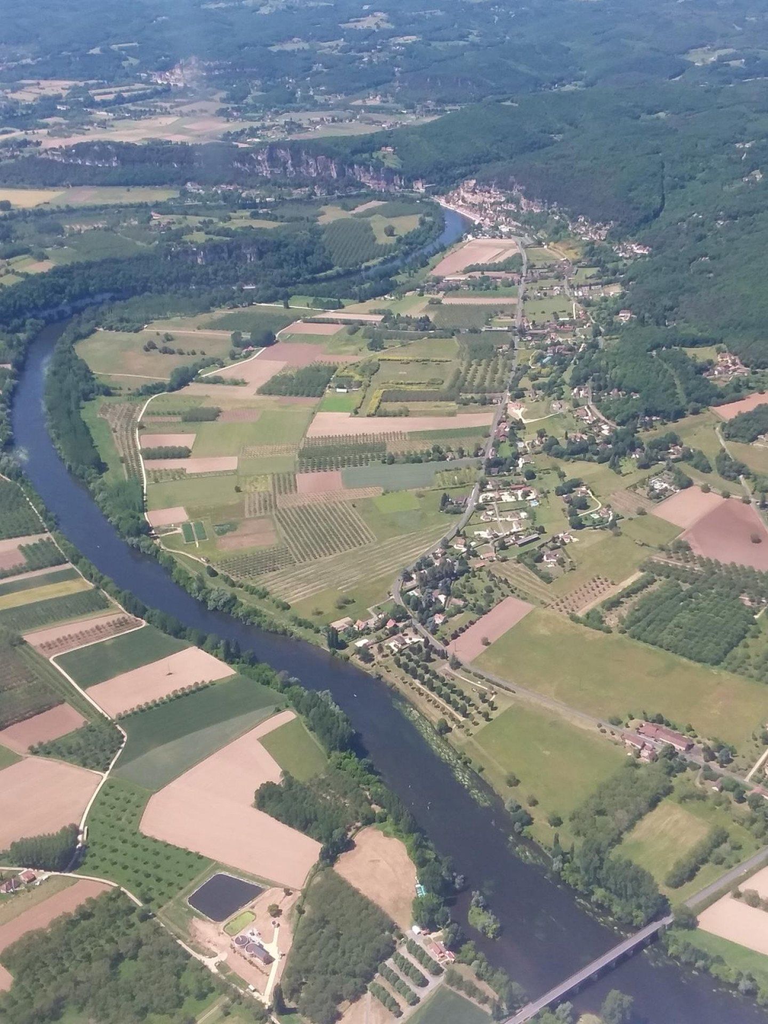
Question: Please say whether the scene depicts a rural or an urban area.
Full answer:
The area is rural.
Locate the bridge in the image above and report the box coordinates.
[503,910,680,1024]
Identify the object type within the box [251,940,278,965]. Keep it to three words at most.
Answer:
building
